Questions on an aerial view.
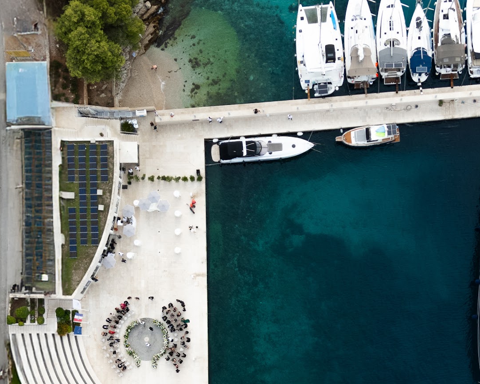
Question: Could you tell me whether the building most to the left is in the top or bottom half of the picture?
top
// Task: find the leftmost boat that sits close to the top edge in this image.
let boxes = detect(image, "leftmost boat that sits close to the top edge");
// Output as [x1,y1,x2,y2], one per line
[294,0,345,100]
